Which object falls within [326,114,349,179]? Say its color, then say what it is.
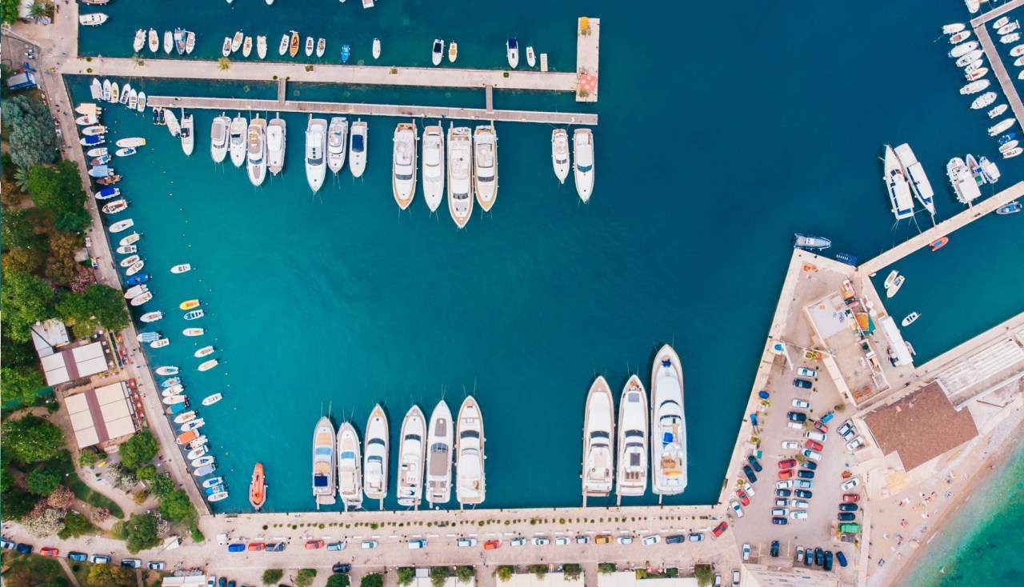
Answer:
white boat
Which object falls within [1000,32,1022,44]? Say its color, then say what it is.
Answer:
white boat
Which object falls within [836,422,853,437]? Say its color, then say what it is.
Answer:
white car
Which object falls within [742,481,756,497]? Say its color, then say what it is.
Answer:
white car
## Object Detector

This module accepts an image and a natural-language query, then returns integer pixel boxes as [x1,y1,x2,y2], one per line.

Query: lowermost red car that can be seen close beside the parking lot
[710,521,730,538]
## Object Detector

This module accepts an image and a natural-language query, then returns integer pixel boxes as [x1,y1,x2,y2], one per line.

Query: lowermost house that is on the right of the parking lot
[860,380,980,472]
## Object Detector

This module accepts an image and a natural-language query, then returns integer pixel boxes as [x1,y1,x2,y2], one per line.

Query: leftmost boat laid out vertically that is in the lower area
[249,463,268,512]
